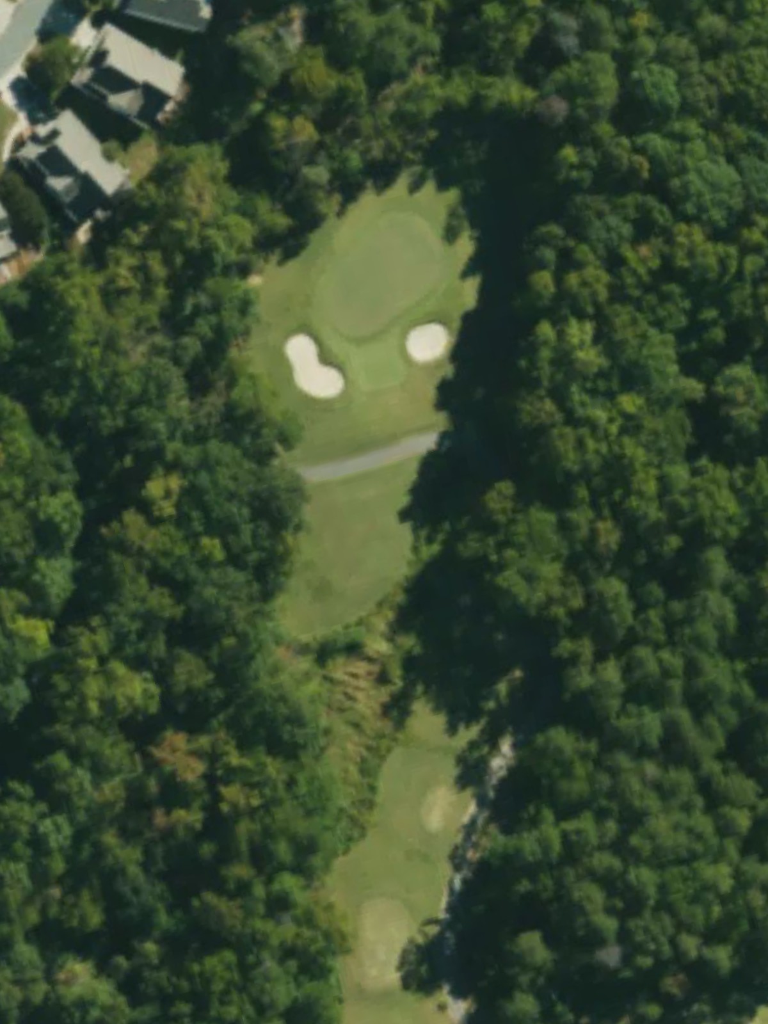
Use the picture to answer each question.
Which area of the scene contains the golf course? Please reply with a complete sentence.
The golf course appears toward the center of the photo.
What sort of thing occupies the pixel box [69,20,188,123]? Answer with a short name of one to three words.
house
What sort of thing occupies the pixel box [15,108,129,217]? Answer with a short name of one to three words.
house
